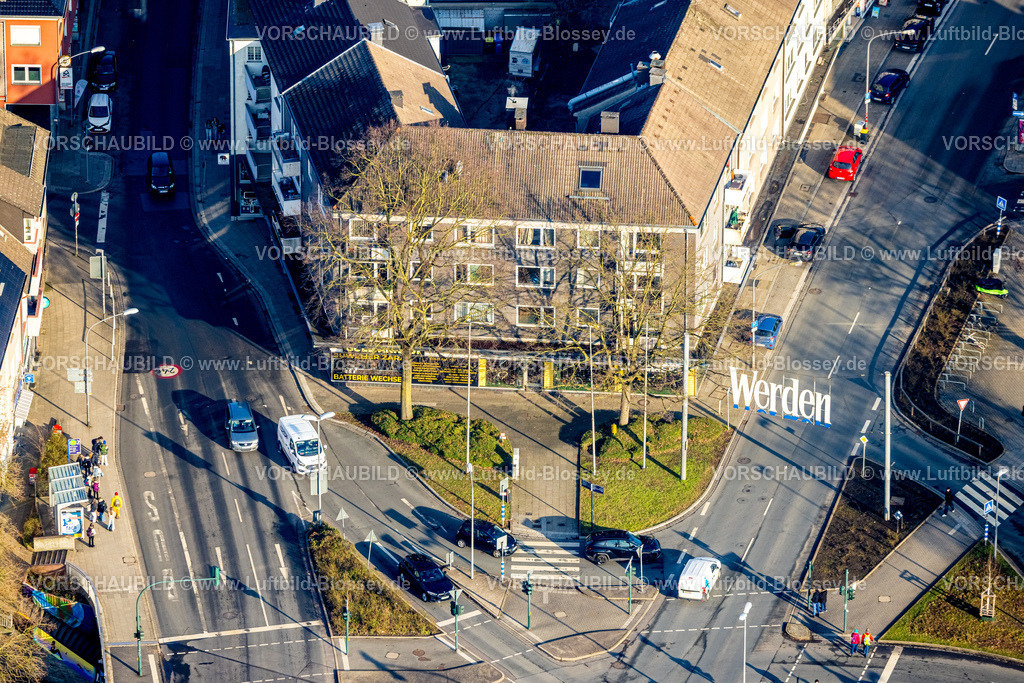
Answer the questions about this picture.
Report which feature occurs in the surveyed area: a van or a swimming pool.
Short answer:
van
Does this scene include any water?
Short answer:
No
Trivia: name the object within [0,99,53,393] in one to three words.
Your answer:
house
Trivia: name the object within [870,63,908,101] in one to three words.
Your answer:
car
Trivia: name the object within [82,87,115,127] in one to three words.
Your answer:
car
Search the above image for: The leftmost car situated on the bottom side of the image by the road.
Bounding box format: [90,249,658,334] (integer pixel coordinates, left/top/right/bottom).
[225,392,263,450]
